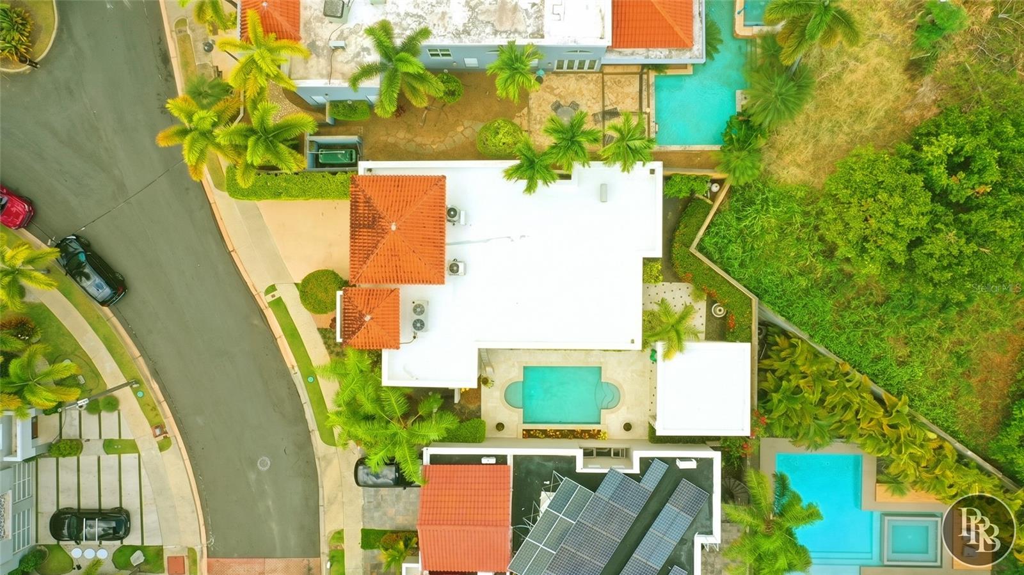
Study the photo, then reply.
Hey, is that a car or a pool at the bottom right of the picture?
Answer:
pool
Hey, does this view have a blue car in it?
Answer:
No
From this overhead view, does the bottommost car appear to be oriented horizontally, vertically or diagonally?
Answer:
horizontally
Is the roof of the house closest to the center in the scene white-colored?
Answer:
Yes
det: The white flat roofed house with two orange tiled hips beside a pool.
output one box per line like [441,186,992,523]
[337,161,662,403]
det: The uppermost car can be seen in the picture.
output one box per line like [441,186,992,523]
[0,186,32,228]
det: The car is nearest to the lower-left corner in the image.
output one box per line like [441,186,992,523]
[44,509,127,550]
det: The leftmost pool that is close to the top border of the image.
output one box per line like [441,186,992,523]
[651,0,753,150]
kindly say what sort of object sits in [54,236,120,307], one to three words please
car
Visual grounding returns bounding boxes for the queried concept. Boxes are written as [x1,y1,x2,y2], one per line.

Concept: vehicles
[44,509,127,550]
[54,236,120,307]
[0,186,32,228]
[350,457,421,497]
